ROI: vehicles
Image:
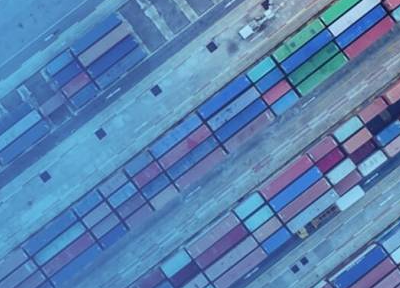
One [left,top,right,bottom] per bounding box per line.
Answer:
[239,0,273,36]
[294,198,351,243]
